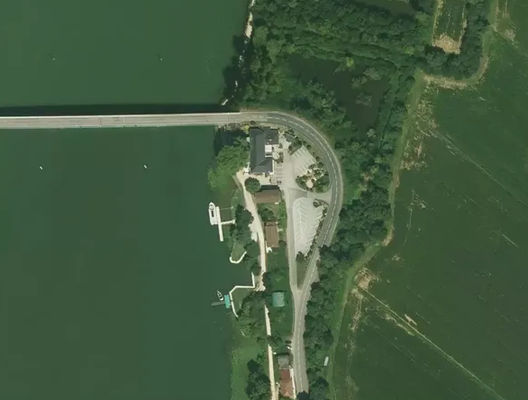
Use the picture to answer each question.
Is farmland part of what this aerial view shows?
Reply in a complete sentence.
Yes, the picture does contain farmland.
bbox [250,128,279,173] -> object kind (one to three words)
building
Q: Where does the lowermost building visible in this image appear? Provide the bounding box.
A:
[280,369,295,397]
